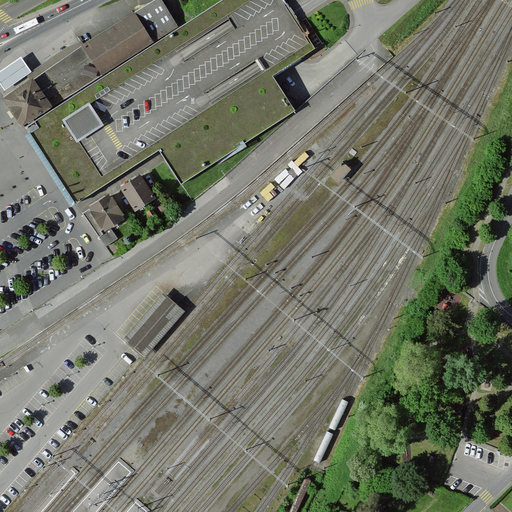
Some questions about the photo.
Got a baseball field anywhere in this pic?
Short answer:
No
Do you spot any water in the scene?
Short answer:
No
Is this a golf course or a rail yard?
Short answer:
rail yard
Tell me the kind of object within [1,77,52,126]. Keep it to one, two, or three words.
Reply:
building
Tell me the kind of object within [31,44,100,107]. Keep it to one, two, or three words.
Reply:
building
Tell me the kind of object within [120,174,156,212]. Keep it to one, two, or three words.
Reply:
house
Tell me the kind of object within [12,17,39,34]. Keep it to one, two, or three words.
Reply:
vehicle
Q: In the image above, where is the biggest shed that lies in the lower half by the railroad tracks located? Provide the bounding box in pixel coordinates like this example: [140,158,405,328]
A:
[122,294,186,358]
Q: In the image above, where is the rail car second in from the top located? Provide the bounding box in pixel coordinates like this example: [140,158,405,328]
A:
[314,430,334,463]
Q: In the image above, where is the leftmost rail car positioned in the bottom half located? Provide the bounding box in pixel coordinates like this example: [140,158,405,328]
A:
[288,476,312,512]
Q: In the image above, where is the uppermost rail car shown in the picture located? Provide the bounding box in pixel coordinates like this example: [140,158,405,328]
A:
[330,398,349,431]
